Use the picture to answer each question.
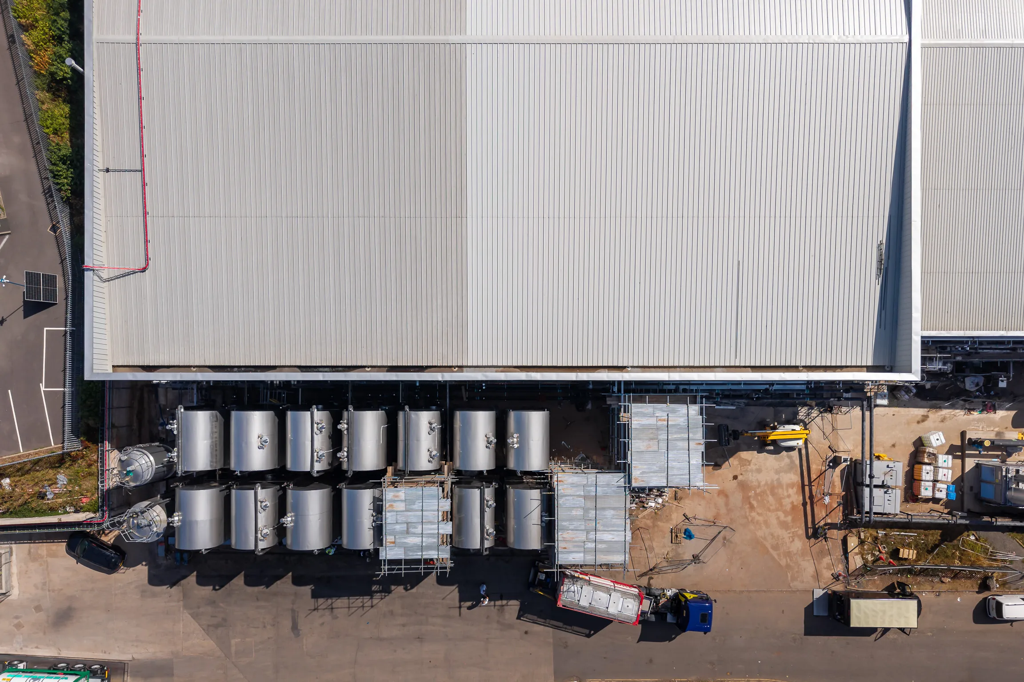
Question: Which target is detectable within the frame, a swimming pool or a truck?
truck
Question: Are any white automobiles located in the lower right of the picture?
Yes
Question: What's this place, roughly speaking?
industrial area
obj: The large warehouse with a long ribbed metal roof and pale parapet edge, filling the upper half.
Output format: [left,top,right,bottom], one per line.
[84,0,920,380]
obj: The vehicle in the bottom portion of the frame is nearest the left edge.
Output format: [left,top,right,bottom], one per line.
[1,662,26,674]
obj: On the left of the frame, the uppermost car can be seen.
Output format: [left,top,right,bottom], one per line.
[69,529,130,575]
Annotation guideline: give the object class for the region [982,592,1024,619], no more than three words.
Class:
car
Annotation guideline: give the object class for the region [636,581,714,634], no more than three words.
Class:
vehicle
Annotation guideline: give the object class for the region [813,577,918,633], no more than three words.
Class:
truck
